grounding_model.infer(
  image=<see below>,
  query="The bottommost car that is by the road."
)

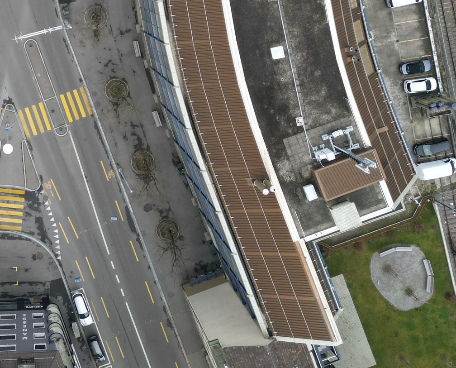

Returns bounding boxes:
[86,332,107,363]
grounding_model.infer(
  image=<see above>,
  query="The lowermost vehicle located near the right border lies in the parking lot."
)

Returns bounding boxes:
[413,156,456,183]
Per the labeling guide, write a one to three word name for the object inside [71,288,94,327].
car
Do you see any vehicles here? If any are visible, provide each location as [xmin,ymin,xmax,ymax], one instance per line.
[413,156,456,183]
[411,137,451,157]
[401,76,437,94]
[71,288,94,327]
[384,0,423,7]
[86,332,107,363]
[397,58,431,76]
